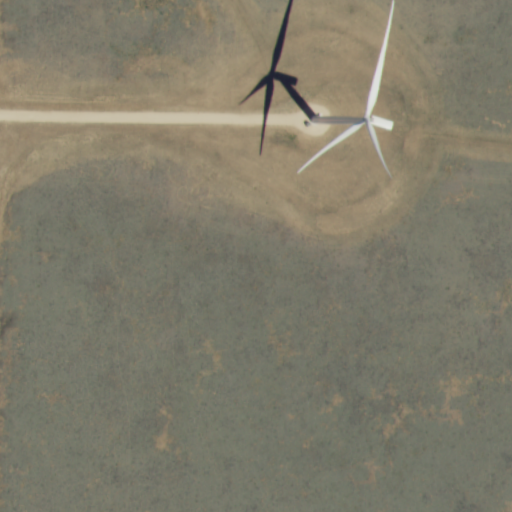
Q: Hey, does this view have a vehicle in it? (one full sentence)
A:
No, I can't see a single vehicle in this photo.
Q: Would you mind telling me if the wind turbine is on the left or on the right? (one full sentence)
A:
The wind turbine is on the right side of the image.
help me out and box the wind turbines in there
[298,0,394,177]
